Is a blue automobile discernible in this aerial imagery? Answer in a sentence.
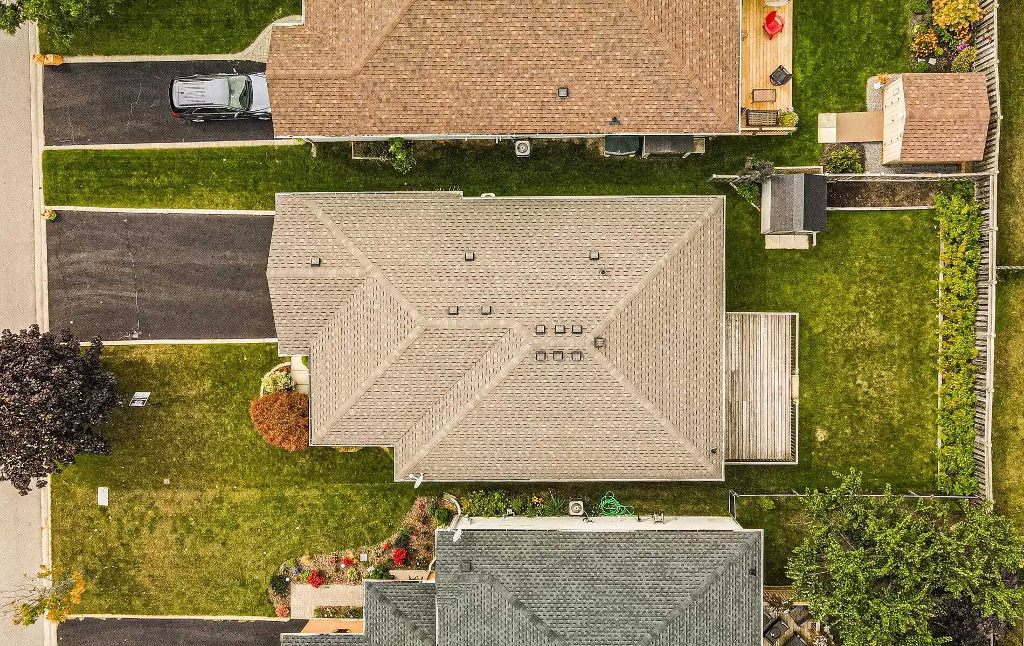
No, there is no blue automobile in the image.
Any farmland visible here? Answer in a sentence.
No, the scene doesn't show any farmland.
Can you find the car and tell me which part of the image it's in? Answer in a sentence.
The car sits in the top left section of the image.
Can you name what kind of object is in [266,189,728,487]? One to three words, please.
house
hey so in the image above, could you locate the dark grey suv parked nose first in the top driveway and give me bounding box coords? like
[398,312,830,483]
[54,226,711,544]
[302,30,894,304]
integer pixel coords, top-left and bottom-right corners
[167,69,272,122]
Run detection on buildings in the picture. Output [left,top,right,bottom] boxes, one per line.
[266,189,728,487]
[267,0,743,149]
[882,73,992,166]
[762,173,827,246]
[278,497,766,646]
